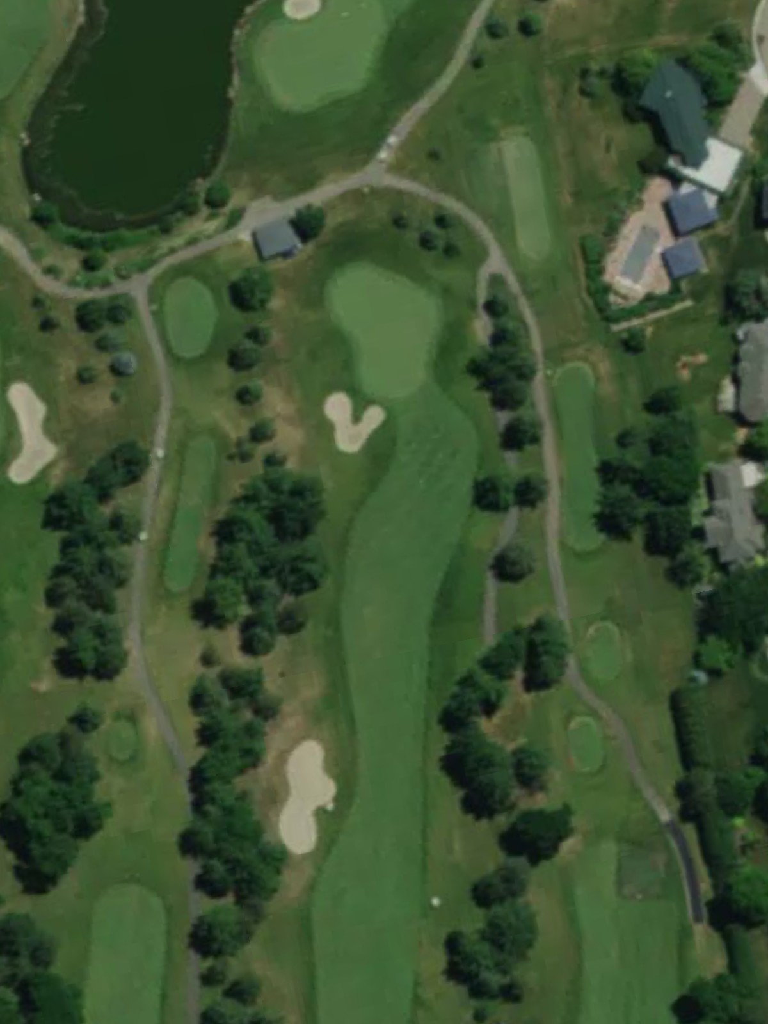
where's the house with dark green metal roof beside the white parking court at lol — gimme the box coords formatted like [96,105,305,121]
[641,60,710,167]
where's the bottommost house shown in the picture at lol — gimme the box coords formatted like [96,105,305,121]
[706,464,766,562]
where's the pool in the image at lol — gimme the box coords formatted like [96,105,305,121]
[620,224,661,284]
